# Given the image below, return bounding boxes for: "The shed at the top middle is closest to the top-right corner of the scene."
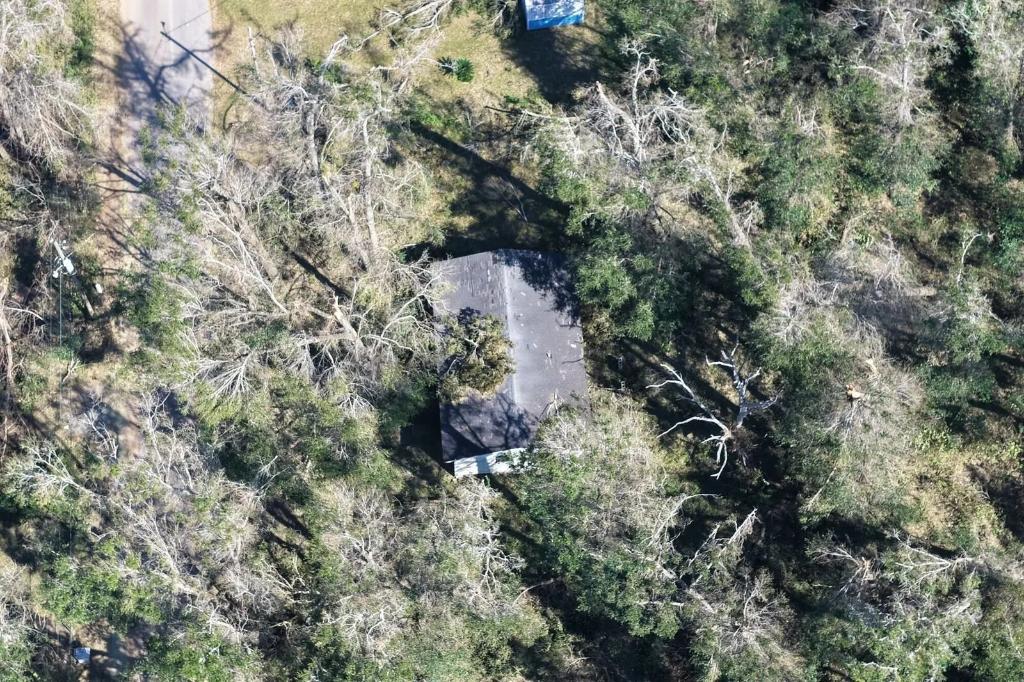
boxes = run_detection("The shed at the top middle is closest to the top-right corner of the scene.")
[522,0,586,33]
